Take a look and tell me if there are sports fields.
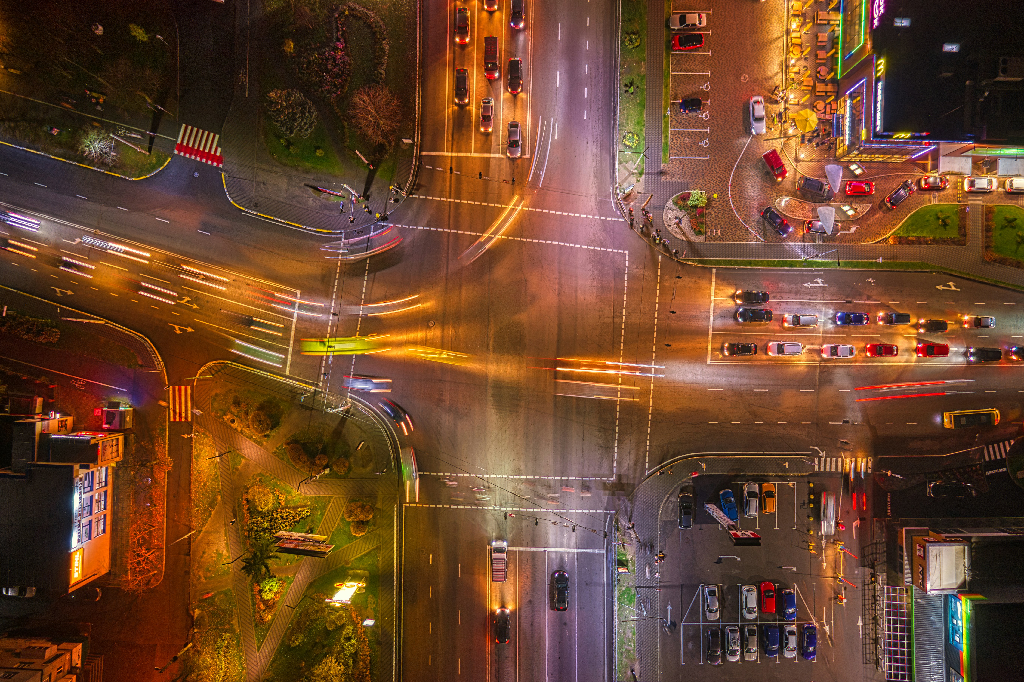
No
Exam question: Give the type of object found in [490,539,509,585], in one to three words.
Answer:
vehicle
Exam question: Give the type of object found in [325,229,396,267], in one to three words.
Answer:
vehicle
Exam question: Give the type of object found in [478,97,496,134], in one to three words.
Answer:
car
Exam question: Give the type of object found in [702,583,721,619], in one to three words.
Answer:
car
